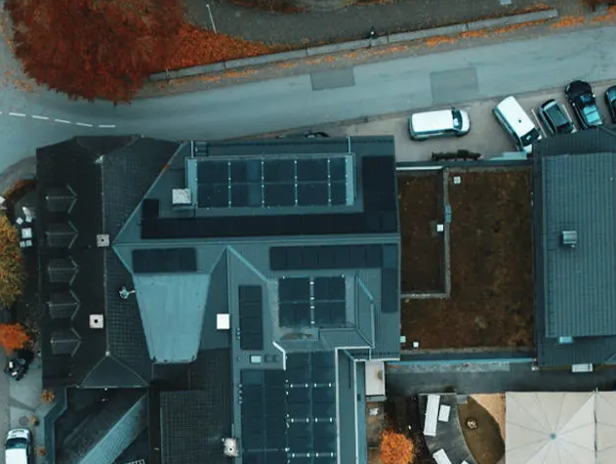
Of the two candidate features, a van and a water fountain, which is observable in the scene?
van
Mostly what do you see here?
buildings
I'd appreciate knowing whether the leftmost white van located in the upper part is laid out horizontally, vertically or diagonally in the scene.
horizontally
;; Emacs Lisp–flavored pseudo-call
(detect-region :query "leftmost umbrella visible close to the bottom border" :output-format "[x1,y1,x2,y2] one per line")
[505,391,595,464]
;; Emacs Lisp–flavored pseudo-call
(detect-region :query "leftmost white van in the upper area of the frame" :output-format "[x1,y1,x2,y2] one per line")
[408,109,470,141]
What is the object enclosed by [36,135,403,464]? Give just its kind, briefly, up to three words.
house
